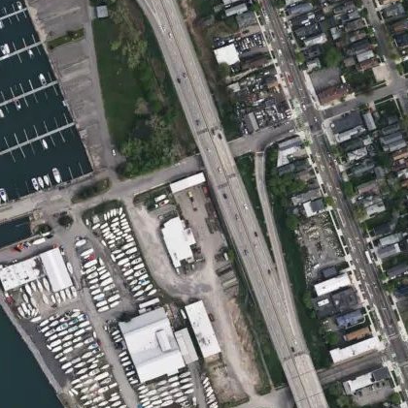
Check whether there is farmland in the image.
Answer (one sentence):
No, there's no farmland in this view.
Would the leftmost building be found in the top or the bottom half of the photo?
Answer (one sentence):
It is in the bottom half that the leftmost building appears.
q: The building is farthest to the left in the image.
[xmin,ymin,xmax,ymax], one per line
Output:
[0,259,45,291]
